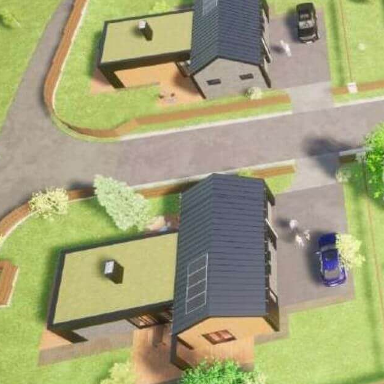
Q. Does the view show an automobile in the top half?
Yes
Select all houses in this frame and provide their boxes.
[37,171,290,384]
[85,0,275,106]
